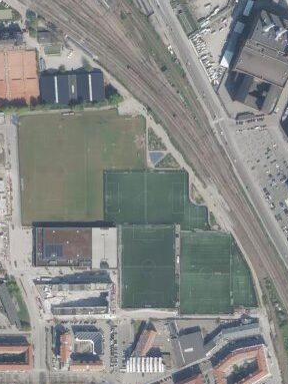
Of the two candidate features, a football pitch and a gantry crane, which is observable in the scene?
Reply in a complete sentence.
I can see a football pitch in this picture.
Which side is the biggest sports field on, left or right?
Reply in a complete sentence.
The biggest sports field is on the left side of the image.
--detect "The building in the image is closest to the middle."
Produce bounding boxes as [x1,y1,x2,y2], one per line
[92,227,118,268]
